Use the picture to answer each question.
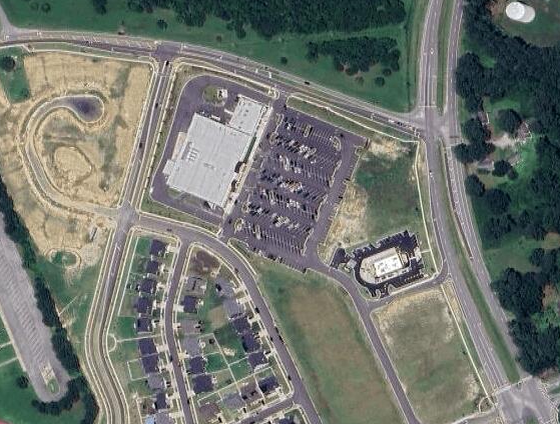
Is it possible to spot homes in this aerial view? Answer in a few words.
Yes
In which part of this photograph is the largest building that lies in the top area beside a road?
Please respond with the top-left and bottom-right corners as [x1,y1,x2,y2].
[163,96,270,209]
